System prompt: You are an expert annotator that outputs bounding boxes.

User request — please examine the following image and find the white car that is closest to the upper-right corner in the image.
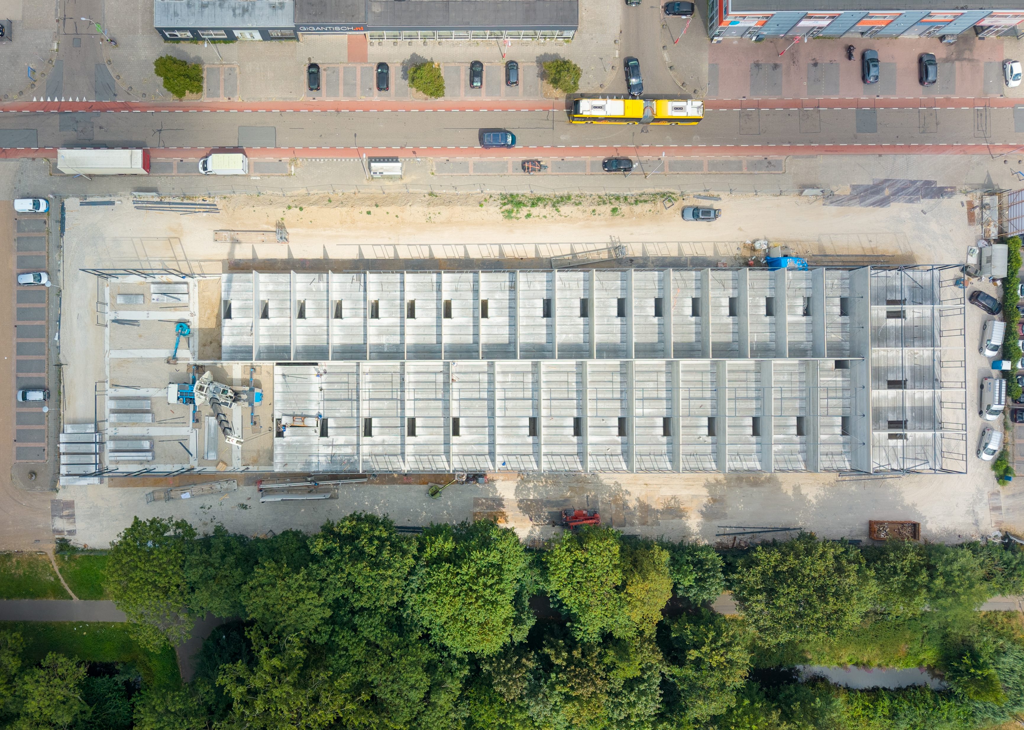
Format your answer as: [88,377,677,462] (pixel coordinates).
[1002,60,1023,88]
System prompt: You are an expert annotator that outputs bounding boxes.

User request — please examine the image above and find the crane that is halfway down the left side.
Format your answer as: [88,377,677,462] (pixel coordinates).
[168,365,301,446]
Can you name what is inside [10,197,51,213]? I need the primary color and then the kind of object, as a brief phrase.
white vehicle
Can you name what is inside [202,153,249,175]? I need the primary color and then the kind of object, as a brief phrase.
white vehicle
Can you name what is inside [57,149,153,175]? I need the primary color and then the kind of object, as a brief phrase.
white trailer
